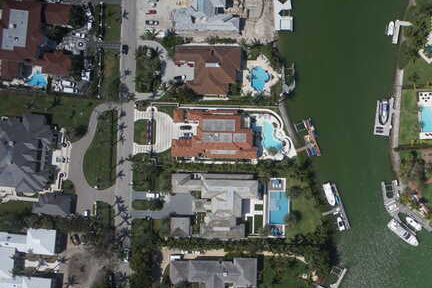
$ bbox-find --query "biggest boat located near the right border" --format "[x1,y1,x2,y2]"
[386,216,418,245]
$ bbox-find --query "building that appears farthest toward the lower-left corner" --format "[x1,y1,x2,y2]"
[0,230,61,288]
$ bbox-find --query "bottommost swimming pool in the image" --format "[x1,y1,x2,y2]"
[265,178,289,238]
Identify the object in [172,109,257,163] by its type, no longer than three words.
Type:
house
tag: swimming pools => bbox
[265,178,289,238]
[249,65,272,92]
[24,77,50,88]
[257,117,292,155]
[421,105,432,133]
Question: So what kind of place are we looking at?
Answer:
residential area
